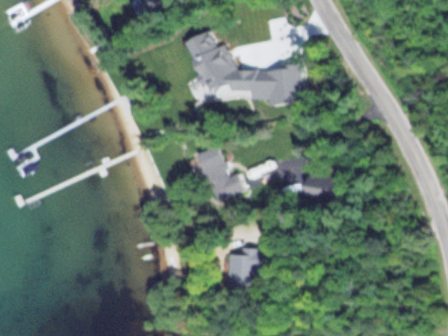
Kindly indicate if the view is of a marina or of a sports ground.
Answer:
marina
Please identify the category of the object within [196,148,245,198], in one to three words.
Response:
house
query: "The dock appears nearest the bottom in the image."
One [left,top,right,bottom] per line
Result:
[14,146,140,208]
